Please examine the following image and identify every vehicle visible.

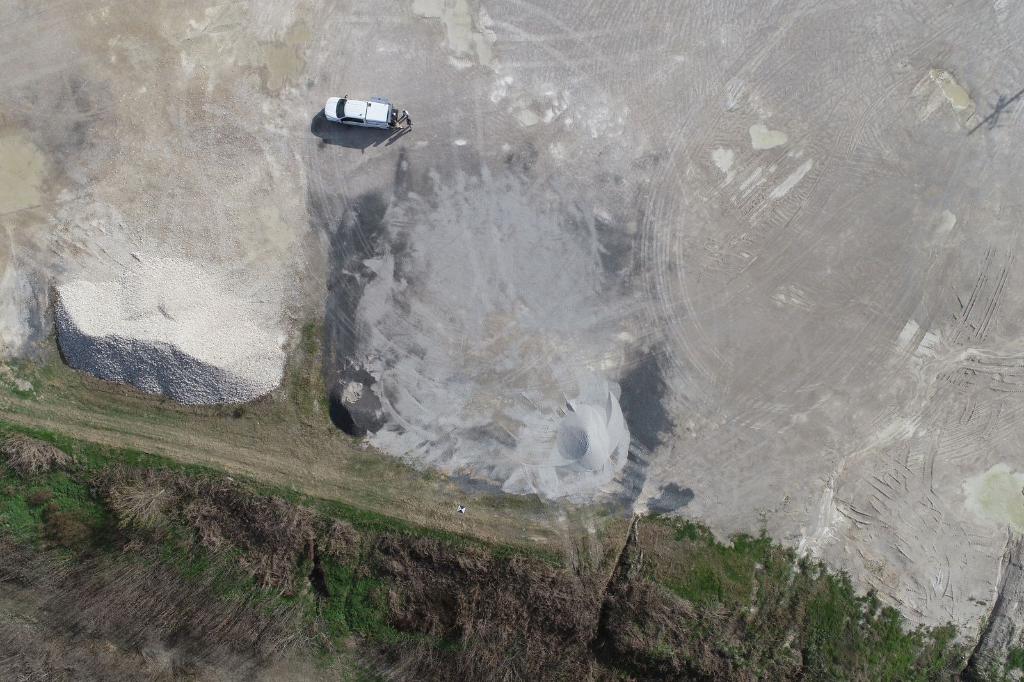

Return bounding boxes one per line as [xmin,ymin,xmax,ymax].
[324,94,399,130]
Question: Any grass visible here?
Yes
